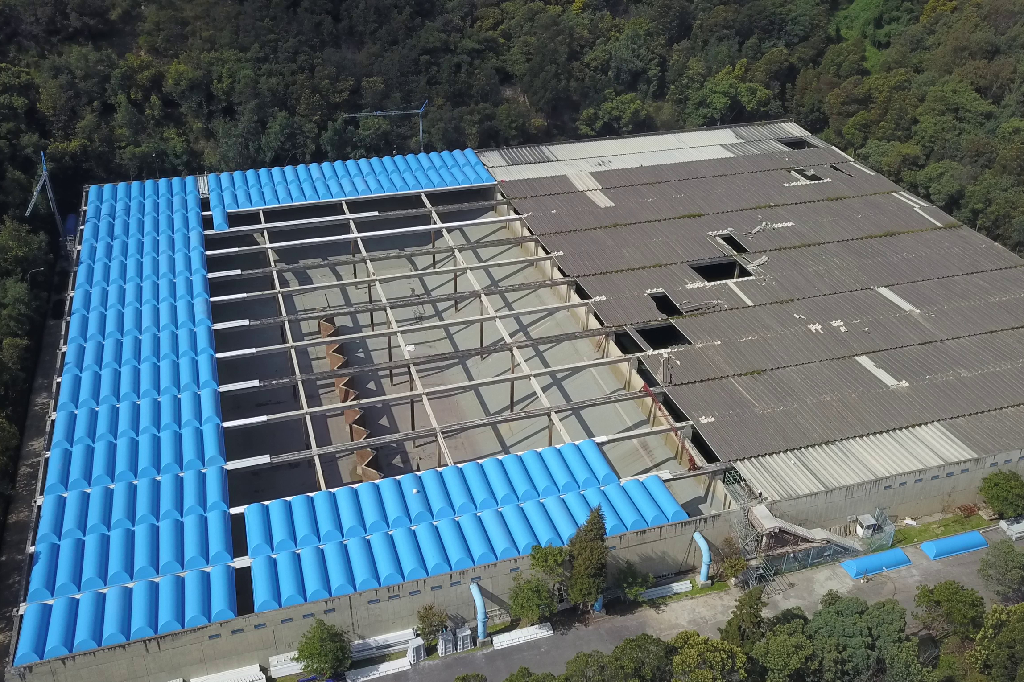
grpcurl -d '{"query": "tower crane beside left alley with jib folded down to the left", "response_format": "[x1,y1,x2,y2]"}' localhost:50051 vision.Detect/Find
[25,140,68,247]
